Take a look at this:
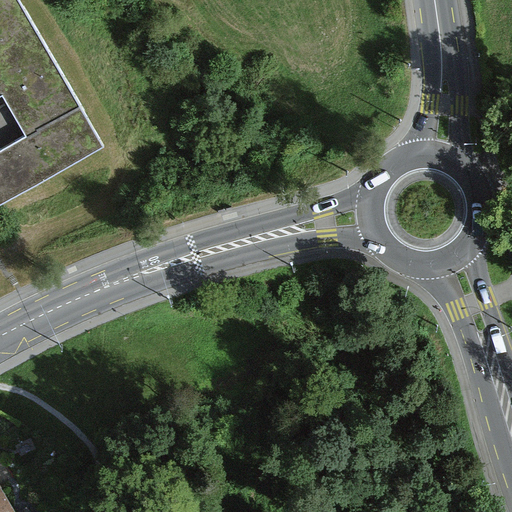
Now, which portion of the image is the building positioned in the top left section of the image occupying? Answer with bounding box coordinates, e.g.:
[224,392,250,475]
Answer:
[0,0,103,206]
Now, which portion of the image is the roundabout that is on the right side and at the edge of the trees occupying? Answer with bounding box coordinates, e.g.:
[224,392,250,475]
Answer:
[356,139,491,280]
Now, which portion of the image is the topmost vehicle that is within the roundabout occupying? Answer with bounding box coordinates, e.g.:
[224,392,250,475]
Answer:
[364,171,392,192]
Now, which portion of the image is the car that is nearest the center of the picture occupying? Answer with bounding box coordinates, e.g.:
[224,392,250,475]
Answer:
[312,198,340,214]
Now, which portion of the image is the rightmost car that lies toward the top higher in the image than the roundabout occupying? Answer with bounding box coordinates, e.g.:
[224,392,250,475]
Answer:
[413,111,428,133]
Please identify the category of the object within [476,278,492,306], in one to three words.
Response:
car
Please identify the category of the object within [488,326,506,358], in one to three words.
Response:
vehicle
